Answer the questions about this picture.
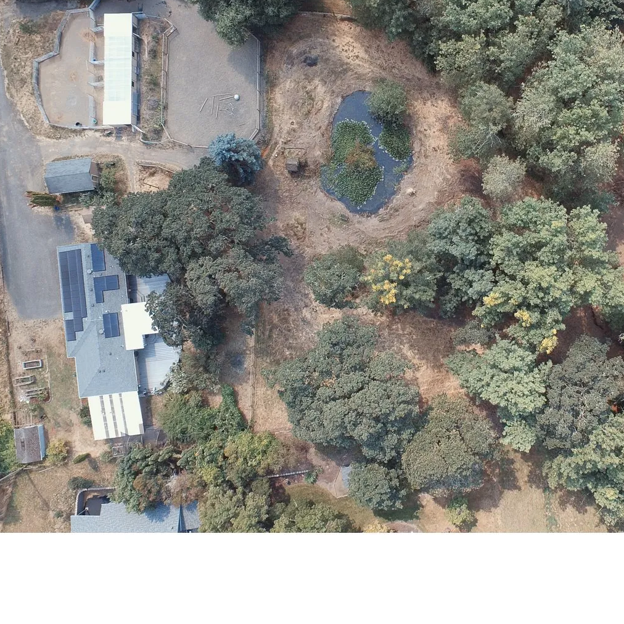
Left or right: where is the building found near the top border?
left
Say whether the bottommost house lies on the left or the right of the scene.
left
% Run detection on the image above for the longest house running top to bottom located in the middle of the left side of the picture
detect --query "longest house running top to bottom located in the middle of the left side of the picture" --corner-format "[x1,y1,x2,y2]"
[56,242,141,399]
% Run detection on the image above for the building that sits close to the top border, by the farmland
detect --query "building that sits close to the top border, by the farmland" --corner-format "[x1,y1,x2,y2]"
[103,13,139,126]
